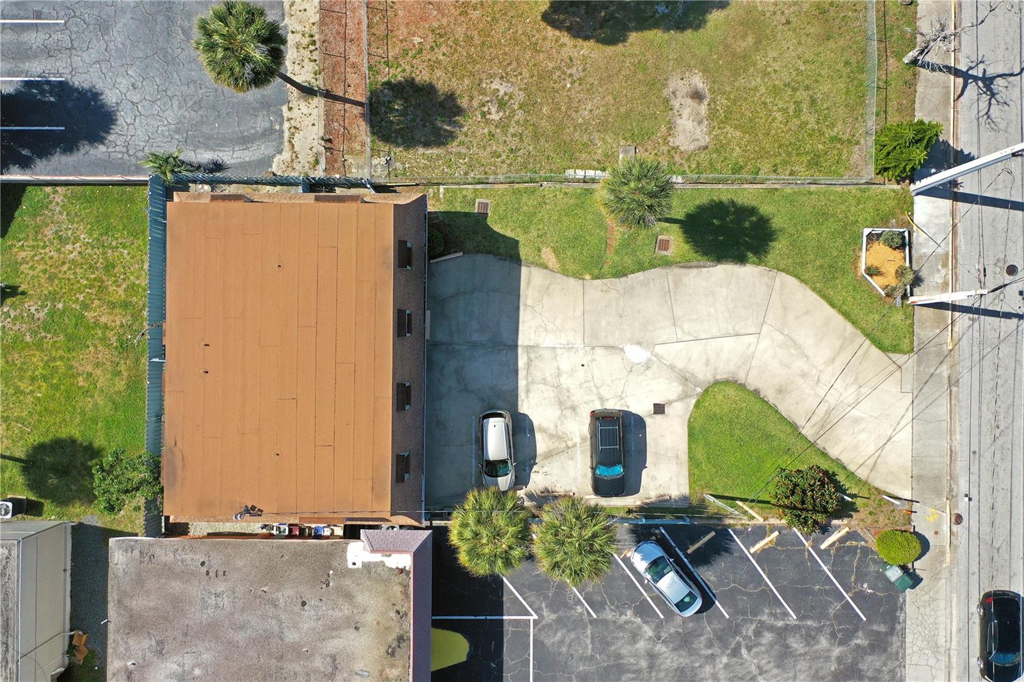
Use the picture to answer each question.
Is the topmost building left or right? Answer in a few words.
left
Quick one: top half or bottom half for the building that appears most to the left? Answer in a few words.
bottom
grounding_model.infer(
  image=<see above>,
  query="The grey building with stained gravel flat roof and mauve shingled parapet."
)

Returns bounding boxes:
[108,520,432,682]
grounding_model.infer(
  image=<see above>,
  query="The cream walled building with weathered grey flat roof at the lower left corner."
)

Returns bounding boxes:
[0,522,72,682]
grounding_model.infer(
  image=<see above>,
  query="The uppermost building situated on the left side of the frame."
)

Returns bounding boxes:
[161,192,429,526]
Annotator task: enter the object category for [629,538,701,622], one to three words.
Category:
car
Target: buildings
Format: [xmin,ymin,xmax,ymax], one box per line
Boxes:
[0,522,72,682]
[161,192,429,526]
[108,520,432,682]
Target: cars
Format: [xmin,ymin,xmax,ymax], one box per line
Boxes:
[629,538,701,622]
[586,406,630,496]
[477,410,517,489]
[977,592,1024,680]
